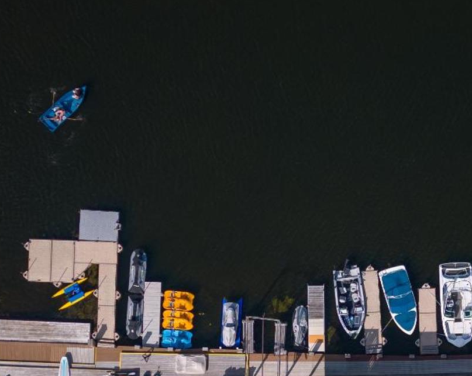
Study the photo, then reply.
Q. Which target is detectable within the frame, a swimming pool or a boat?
boat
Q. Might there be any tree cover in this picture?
No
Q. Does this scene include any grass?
No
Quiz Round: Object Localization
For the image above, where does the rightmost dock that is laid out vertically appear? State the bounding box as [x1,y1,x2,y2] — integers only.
[413,280,445,354]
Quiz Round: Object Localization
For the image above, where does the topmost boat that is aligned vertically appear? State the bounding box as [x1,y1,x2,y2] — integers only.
[130,249,146,294]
